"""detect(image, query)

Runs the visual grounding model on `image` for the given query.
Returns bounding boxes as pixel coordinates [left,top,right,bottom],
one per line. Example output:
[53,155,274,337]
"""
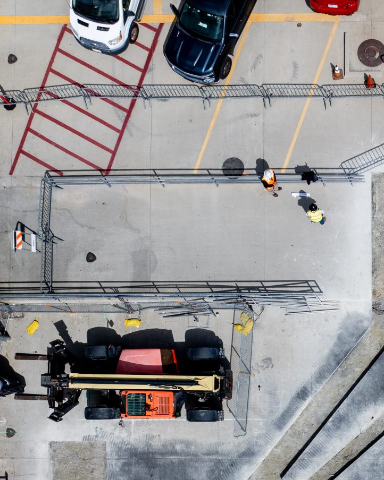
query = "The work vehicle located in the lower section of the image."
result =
[15,337,236,428]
